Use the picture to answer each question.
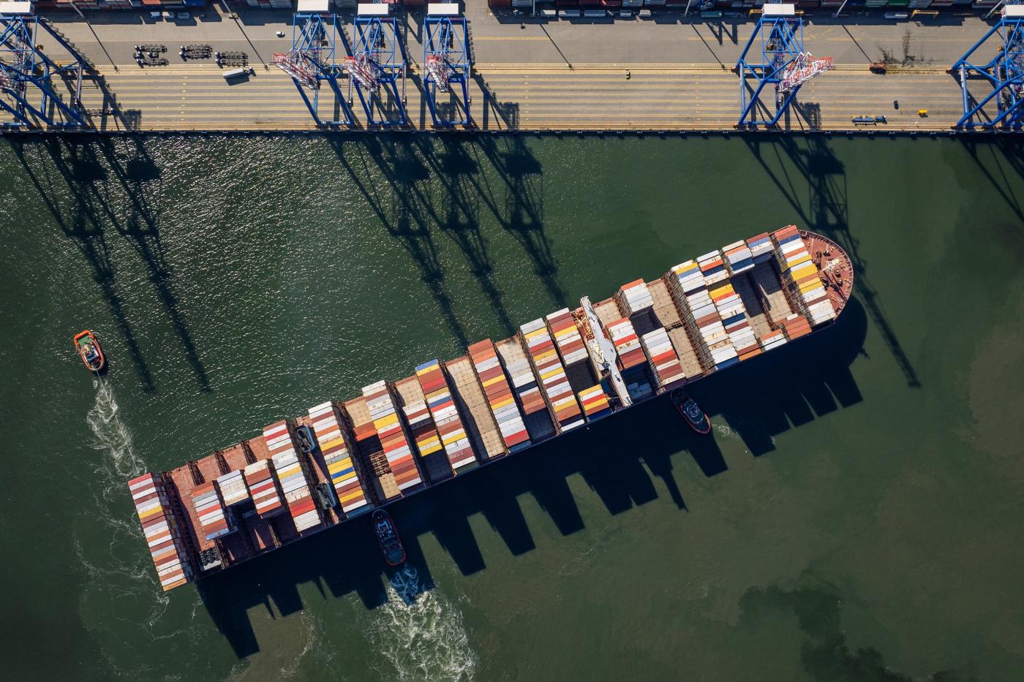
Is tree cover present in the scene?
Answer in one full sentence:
No, the picture contains no tree cover.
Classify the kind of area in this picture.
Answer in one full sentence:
What you see here is a port.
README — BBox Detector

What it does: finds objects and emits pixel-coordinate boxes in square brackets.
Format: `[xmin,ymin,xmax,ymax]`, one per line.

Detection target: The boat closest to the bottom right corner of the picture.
[667,385,711,435]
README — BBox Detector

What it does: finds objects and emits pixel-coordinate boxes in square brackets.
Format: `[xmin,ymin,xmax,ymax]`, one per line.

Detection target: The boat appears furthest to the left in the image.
[71,325,103,373]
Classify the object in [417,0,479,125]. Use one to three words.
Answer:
container crane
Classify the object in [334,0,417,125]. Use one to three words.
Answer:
container crane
